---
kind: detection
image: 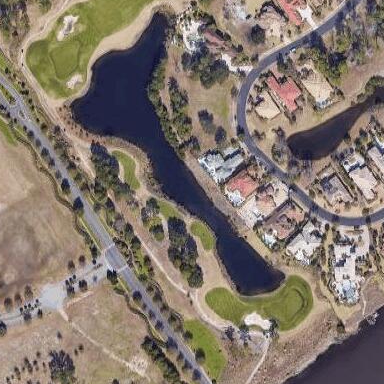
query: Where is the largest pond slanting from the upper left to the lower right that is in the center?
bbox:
[71,13,284,295]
